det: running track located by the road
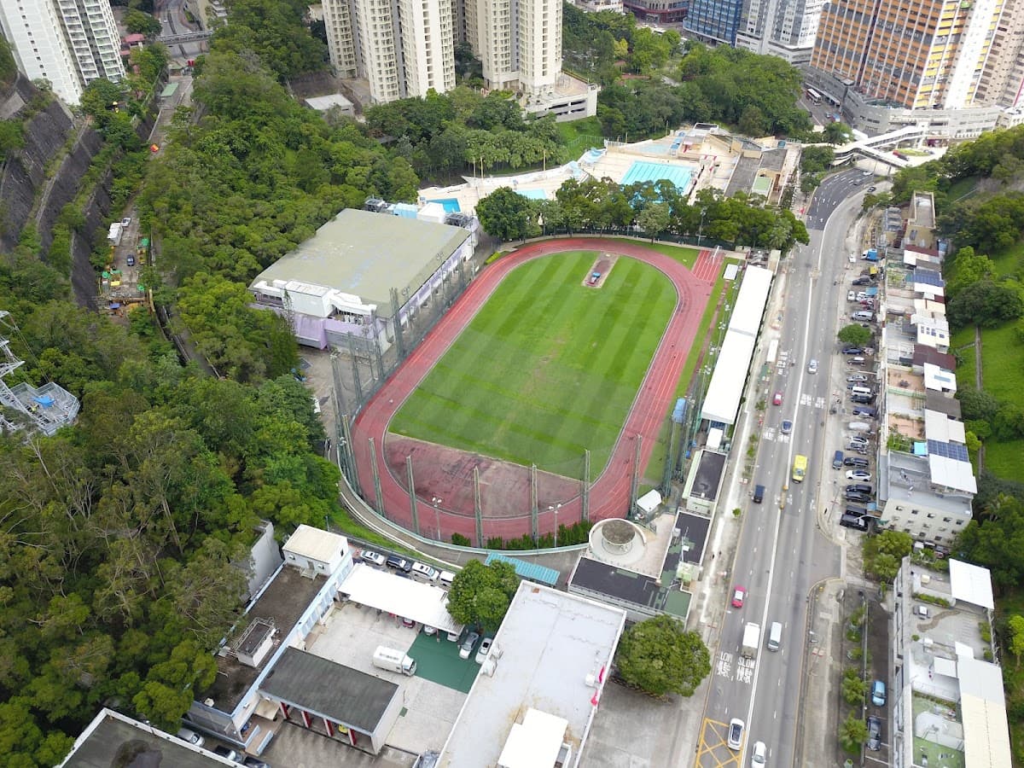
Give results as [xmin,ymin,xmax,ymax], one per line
[350,240,724,546]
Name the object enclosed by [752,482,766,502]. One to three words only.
vehicle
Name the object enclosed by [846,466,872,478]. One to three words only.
vehicle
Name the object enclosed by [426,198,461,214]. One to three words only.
swimming pool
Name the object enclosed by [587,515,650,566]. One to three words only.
building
